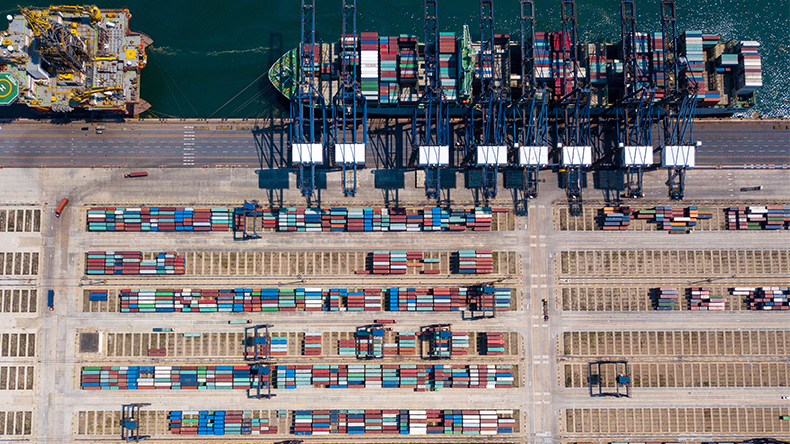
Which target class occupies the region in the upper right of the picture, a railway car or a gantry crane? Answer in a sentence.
The one visible in the upper right of the picture is a gantry crane.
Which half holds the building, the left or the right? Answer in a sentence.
You can find the building on the left side of the picture.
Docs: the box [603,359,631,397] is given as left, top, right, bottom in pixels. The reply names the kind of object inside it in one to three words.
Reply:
container crane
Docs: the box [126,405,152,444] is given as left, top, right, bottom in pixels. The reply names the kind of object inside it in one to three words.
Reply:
container crane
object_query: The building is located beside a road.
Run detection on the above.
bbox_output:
[79,332,105,353]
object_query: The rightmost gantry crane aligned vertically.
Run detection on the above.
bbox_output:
[628,2,703,199]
